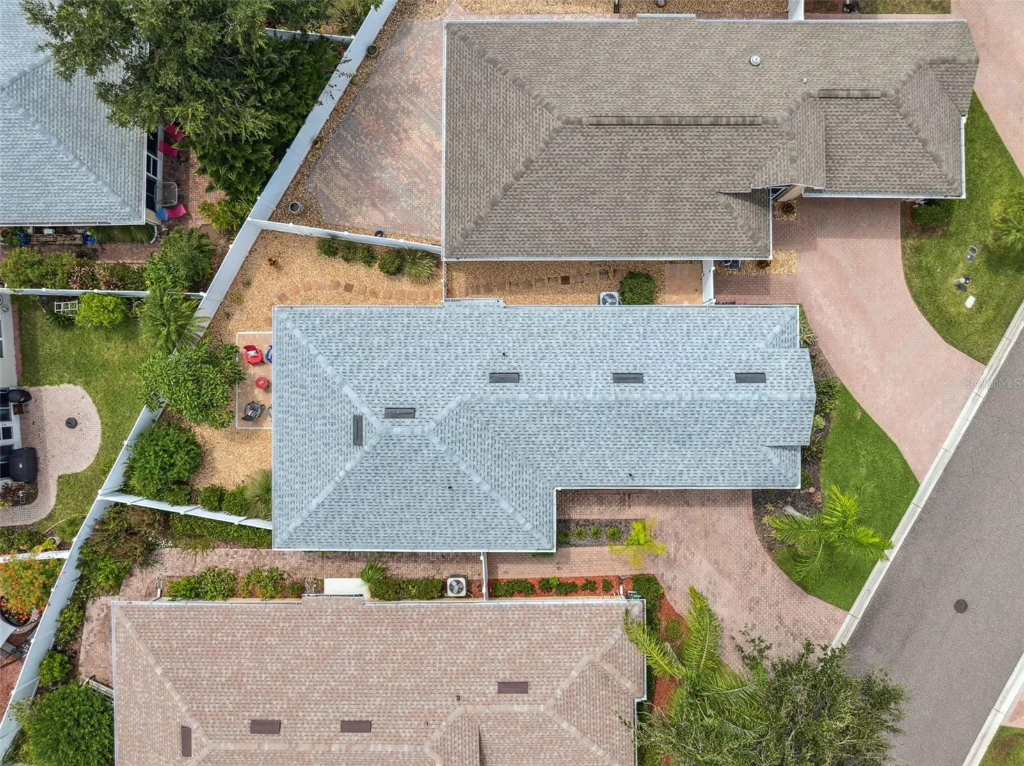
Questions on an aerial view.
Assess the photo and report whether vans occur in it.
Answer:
No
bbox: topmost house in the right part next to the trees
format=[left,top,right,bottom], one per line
[443,14,981,259]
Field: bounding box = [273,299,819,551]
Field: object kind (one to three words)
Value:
house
